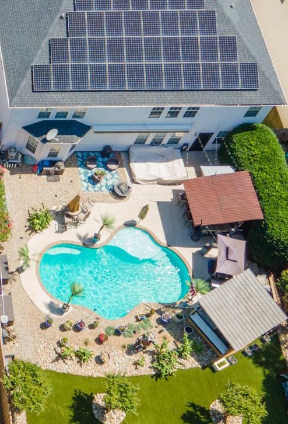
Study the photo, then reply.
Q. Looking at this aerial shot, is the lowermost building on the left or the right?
right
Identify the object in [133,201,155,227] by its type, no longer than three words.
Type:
umbrella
